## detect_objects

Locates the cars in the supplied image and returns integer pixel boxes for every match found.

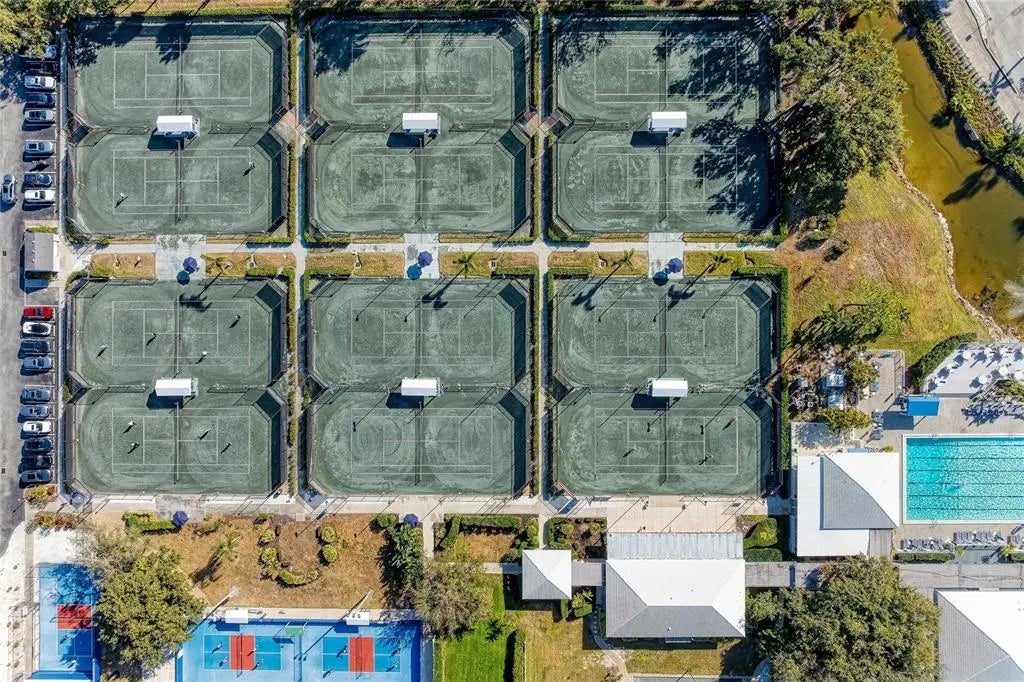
[23,357,53,370]
[21,455,51,468]
[23,305,53,319]
[25,173,53,186]
[25,189,55,202]
[1,175,17,203]
[27,141,53,154]
[22,389,51,402]
[26,75,56,90]
[24,421,52,434]
[25,109,55,123]
[22,471,51,484]
[21,340,51,353]
[24,438,53,451]
[22,321,52,335]
[27,61,56,75]
[25,91,55,106]
[21,405,48,417]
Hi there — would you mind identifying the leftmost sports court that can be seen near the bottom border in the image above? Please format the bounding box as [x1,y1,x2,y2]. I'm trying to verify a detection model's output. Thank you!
[51,577,92,657]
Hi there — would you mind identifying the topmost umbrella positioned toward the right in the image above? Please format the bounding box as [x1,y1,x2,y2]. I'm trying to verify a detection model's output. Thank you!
[667,258,682,272]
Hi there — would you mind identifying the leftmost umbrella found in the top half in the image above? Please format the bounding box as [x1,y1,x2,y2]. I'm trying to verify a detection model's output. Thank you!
[183,258,197,272]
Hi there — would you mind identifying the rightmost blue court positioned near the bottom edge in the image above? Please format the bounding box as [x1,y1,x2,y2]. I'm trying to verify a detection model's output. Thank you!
[322,634,401,677]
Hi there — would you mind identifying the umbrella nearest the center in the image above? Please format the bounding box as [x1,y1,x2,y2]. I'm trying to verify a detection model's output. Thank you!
[418,251,432,266]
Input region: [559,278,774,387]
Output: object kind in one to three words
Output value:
tennis court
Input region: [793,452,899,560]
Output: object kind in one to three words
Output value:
building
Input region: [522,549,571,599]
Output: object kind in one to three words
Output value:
building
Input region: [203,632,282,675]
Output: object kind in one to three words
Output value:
sports court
